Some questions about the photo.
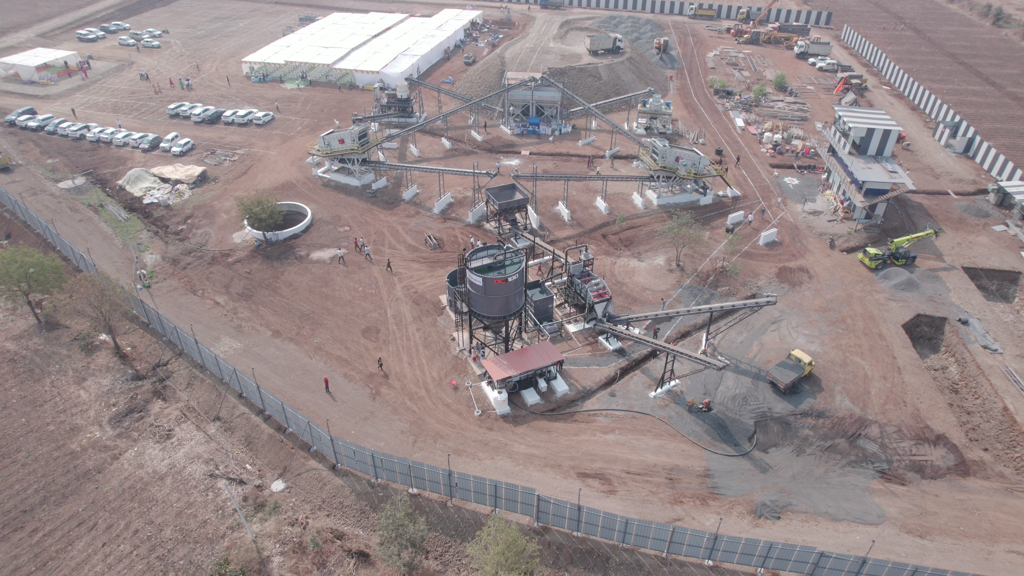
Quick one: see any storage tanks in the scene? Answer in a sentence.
Yes, the frame does contain a storage tank.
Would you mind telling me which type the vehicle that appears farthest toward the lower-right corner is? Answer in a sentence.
The vehicle that appears farthest toward the lower-right corner in the image is a truck.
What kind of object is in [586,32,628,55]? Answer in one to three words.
truck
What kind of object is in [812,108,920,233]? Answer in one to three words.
building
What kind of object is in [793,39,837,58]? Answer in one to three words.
vehicle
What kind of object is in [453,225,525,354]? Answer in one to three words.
storage tank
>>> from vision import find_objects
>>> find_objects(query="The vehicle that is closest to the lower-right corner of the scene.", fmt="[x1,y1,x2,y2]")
[769,344,825,395]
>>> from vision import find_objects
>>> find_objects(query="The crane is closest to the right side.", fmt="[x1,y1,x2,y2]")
[862,220,952,267]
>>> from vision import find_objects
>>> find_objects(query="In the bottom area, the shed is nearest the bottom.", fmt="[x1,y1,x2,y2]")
[483,339,565,399]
